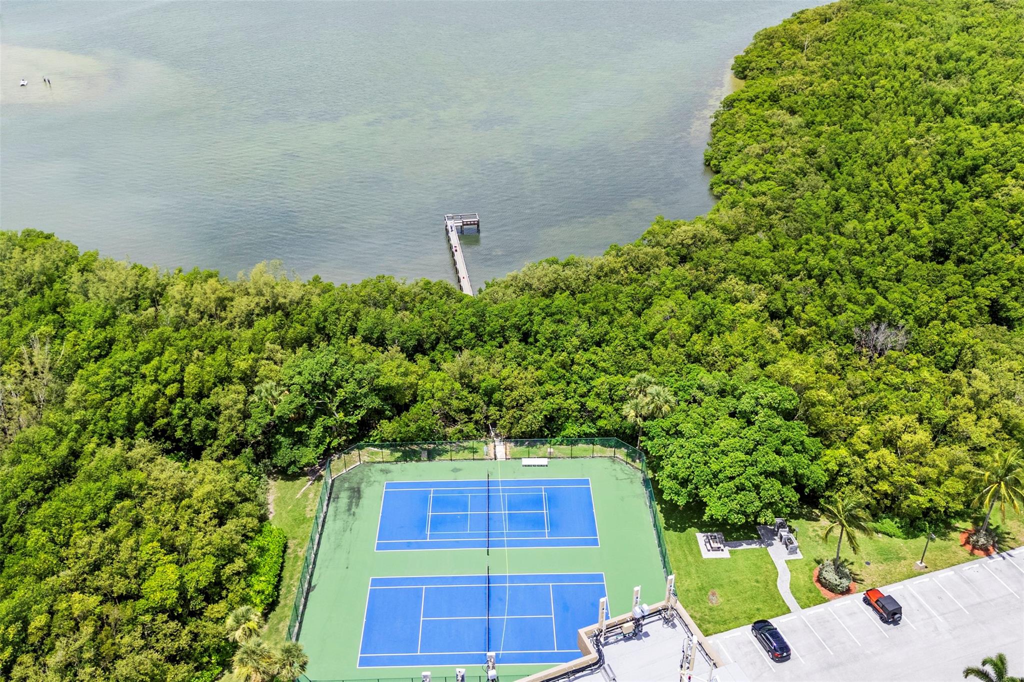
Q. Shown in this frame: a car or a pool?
car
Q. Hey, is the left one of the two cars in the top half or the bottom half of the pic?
bottom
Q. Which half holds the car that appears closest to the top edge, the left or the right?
right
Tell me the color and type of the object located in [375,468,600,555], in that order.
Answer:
blue tennis court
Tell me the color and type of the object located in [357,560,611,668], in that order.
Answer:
blue tennis court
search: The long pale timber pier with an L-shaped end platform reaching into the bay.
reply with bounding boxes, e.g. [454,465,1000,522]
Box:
[445,210,478,314]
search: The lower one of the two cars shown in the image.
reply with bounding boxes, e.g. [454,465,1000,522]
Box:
[752,619,795,663]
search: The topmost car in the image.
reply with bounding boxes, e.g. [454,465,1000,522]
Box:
[861,589,903,625]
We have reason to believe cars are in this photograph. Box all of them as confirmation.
[752,619,795,663]
[861,589,903,625]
